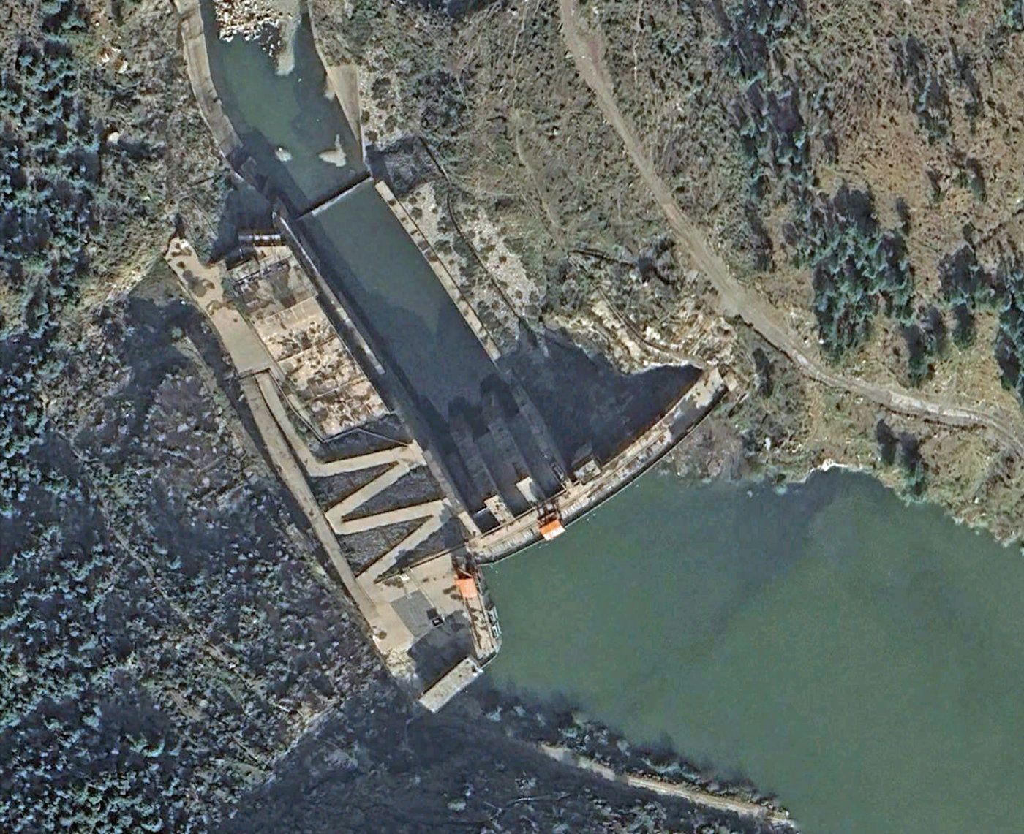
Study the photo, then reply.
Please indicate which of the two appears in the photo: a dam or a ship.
dam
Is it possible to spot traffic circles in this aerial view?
No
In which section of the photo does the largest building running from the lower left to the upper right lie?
bottom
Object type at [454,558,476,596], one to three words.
house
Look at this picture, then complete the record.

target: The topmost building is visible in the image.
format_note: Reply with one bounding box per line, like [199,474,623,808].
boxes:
[574,462,600,484]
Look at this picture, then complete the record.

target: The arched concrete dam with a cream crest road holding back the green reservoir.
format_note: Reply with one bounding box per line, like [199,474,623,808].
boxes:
[440,370,740,566]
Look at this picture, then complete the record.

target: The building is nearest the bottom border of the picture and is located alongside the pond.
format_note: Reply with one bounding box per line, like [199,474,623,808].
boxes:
[420,656,483,711]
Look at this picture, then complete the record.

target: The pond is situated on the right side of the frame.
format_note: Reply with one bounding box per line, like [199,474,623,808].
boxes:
[482,464,1024,834]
